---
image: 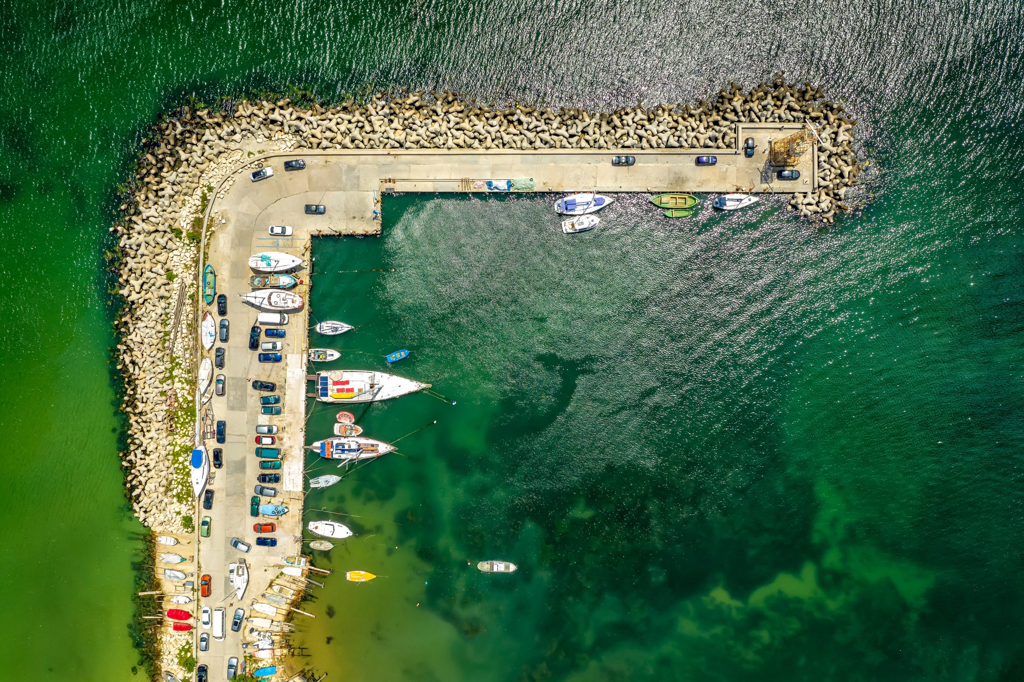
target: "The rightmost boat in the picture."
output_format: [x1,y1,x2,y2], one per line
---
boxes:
[711,189,760,210]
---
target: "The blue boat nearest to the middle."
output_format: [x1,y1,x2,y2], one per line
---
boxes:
[386,350,409,362]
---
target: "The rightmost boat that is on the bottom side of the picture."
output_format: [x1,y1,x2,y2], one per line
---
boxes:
[477,560,518,575]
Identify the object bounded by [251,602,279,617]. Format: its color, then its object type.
white boat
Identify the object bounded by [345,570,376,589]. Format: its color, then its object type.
yellow boat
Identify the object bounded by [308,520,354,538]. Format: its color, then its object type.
white boat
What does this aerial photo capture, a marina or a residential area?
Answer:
marina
